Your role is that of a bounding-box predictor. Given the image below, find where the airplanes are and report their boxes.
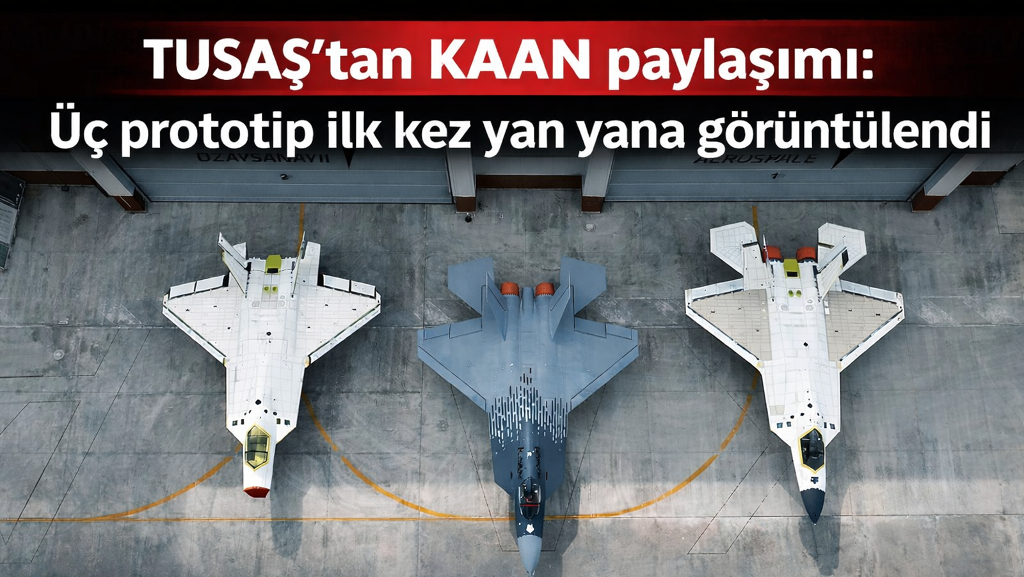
[686,221,907,524]
[160,229,381,498]
[417,257,640,577]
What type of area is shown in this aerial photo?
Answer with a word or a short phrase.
airport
